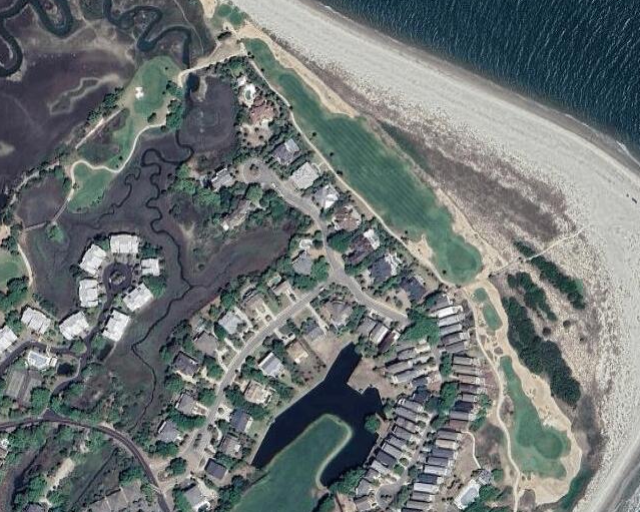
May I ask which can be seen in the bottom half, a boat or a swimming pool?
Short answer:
swimming pool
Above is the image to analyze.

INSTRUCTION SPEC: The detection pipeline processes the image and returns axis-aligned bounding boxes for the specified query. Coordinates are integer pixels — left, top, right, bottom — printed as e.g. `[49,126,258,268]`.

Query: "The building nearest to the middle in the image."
[294,251,315,275]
